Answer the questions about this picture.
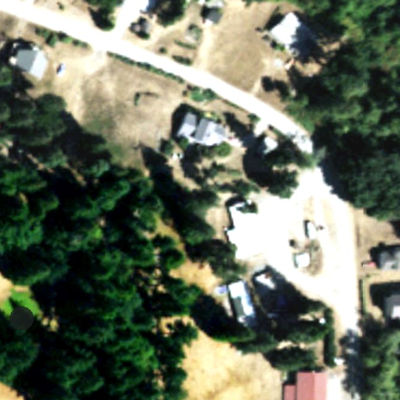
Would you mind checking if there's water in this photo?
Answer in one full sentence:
No, there's no water in this view.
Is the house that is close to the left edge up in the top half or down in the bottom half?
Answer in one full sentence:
The top half of the photo is where the house that is close to the left edge is.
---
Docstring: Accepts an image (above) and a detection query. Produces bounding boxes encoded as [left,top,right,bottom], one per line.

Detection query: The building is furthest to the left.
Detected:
[15,46,47,77]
